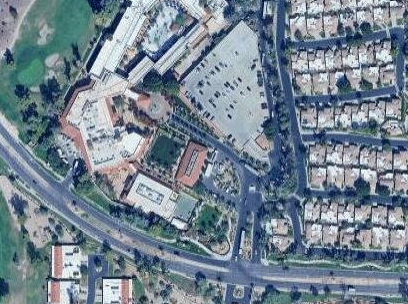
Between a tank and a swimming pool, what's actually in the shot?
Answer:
swimming pool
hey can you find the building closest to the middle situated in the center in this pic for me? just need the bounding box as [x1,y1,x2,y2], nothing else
[173,141,209,189]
